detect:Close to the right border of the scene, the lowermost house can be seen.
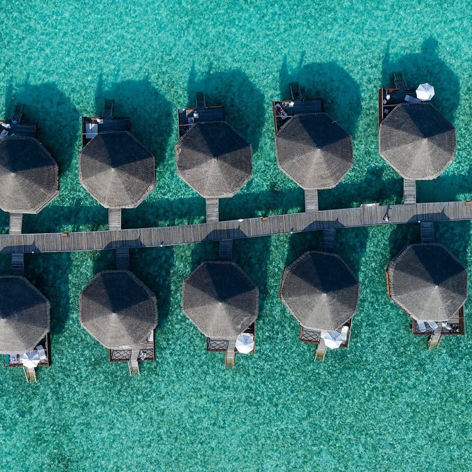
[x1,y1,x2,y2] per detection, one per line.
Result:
[380,241,468,351]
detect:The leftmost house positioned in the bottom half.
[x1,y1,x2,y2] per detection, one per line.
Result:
[0,273,53,382]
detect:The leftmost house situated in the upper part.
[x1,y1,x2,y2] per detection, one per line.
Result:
[0,101,67,215]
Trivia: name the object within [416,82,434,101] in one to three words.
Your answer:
umbrella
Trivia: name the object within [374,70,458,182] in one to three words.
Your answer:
house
